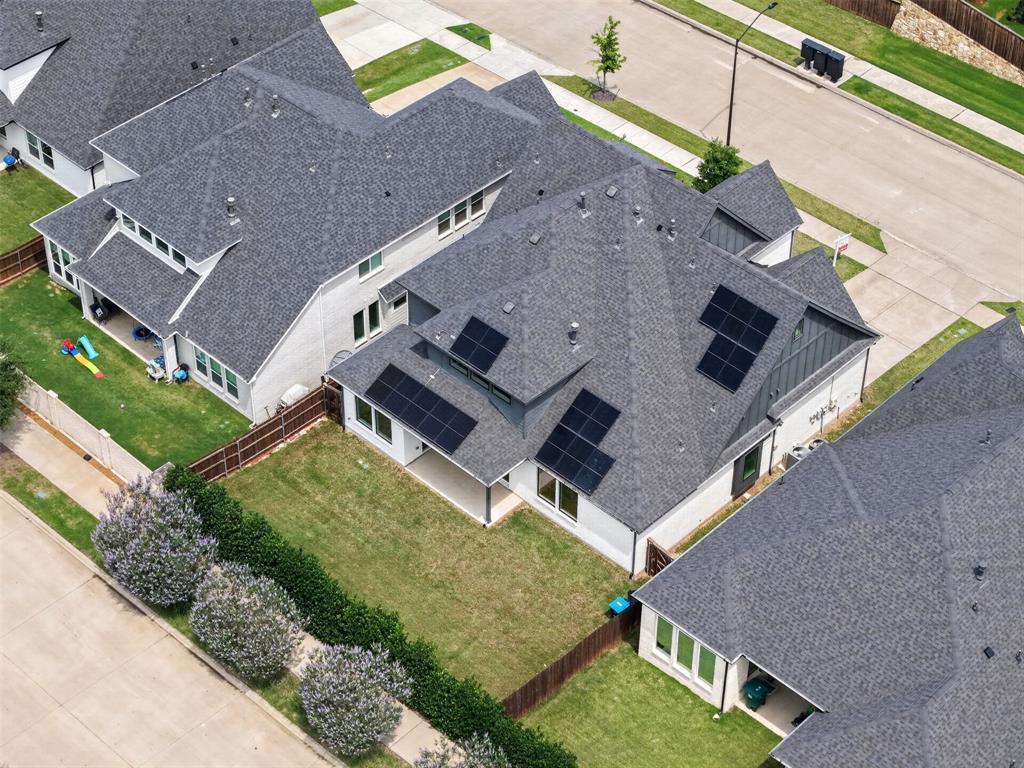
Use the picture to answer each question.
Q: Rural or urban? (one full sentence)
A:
This place is urban.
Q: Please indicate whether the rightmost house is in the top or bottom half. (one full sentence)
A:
You can find the rightmost house in the bottom half.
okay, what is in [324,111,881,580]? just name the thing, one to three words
house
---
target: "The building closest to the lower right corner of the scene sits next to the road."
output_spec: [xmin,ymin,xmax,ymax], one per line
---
[631,313,1024,768]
